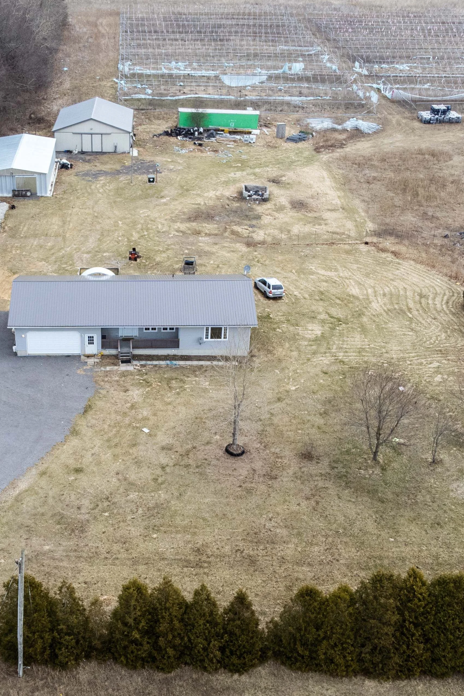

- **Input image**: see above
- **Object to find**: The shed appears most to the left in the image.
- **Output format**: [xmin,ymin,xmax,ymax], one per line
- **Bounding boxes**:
[0,133,64,195]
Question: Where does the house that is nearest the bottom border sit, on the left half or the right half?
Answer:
left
